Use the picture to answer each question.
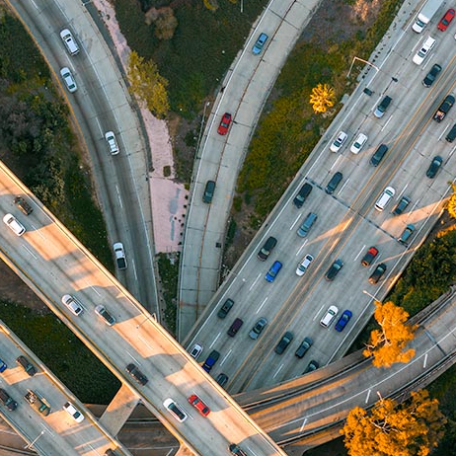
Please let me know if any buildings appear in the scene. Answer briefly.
No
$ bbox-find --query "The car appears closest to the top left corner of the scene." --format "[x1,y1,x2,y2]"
[60,30,79,54]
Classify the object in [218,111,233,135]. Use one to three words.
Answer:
car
